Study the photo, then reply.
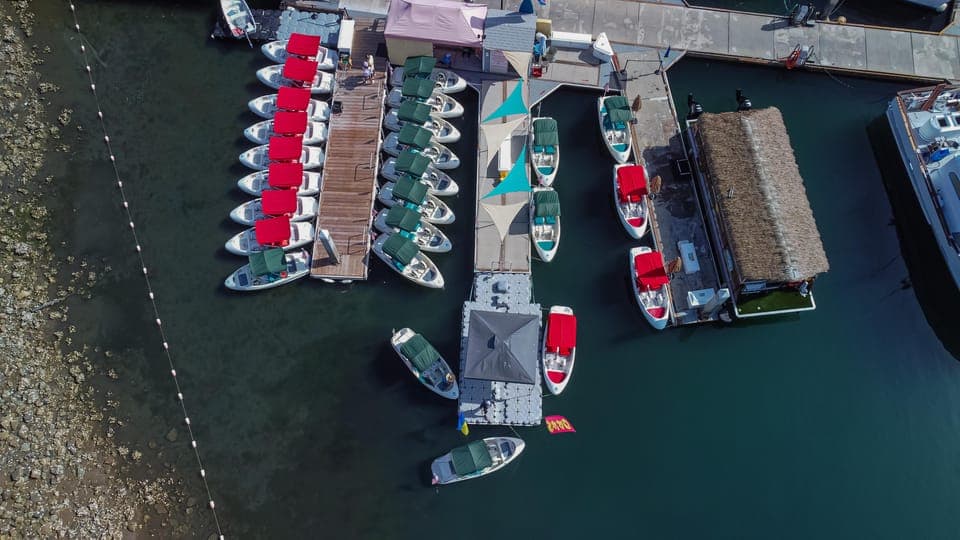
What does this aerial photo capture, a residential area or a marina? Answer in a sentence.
The picture captures a marina.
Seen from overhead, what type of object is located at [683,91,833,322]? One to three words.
boat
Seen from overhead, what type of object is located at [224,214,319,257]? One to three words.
boat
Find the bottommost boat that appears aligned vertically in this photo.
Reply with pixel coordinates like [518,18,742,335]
[539,304,577,395]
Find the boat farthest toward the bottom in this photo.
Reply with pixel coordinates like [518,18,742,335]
[423,436,525,488]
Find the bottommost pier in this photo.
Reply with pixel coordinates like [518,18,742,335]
[454,267,540,428]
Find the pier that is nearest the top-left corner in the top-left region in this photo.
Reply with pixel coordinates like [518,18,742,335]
[207,8,281,44]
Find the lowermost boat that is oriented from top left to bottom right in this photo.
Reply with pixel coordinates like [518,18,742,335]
[388,327,459,399]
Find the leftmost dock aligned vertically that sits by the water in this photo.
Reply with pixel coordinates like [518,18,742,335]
[316,8,383,290]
